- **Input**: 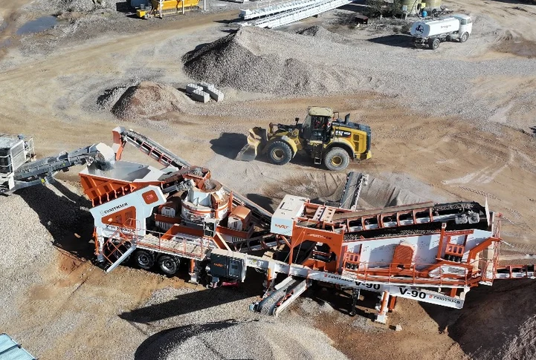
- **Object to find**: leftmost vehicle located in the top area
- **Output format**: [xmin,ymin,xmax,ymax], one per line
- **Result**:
[233,102,377,170]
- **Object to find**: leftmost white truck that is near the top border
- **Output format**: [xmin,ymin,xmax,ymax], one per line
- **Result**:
[410,9,473,49]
